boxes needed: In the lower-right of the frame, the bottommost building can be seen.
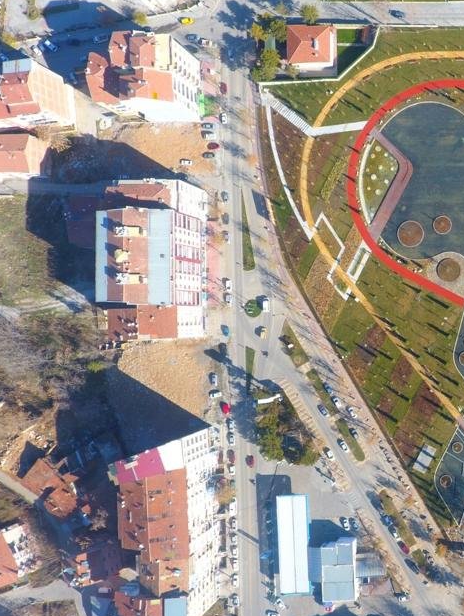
[322,564,360,601]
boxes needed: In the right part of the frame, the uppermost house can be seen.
[287,24,335,68]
